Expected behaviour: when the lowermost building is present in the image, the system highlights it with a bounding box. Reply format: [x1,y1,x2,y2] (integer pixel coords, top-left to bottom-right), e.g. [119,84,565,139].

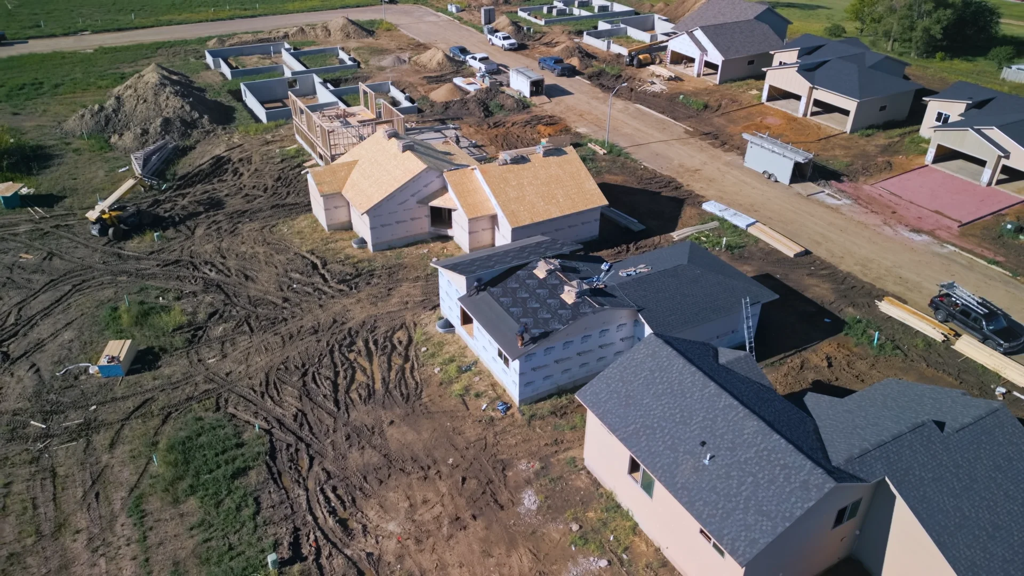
[574,333,1024,576]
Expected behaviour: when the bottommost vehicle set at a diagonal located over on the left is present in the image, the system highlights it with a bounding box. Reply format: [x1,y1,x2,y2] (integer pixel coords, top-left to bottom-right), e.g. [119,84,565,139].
[85,180,169,241]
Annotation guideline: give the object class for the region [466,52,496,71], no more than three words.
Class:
vehicle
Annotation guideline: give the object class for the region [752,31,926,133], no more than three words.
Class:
house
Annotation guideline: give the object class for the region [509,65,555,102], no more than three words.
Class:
trailer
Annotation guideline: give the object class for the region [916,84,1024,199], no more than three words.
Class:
house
